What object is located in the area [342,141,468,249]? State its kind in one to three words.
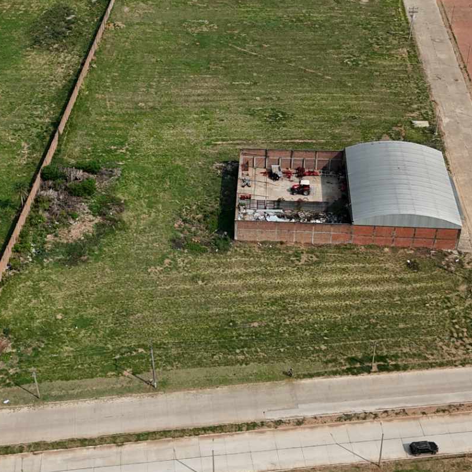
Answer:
shed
